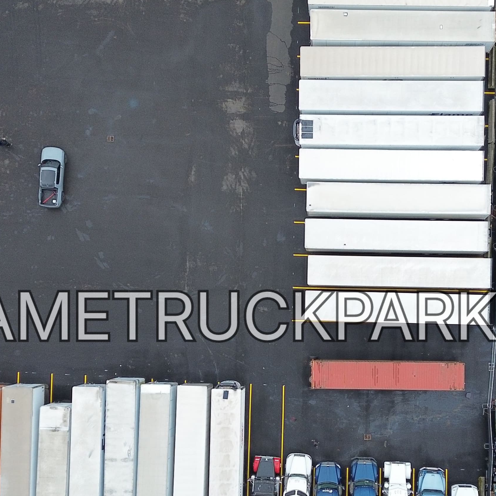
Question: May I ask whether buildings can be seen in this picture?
No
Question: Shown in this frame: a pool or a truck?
truck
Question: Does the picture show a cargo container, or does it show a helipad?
cargo container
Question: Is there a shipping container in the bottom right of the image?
Yes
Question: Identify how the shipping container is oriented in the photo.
from side to side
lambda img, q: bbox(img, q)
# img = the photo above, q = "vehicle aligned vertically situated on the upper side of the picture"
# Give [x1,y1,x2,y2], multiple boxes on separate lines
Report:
[38,147,69,209]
